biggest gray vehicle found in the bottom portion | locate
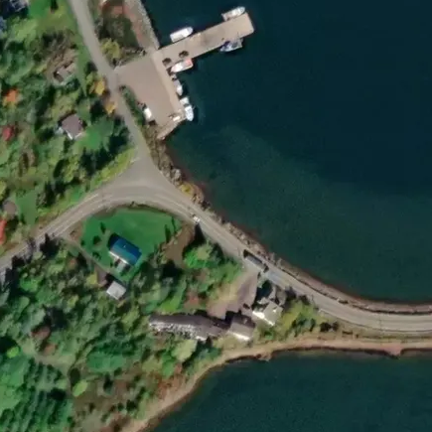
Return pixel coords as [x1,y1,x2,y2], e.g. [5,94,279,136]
[246,255,267,270]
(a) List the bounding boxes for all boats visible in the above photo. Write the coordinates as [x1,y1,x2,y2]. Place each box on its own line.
[221,38,243,50]
[171,59,194,71]
[173,80,183,95]
[222,8,245,21]
[170,29,192,42]
[183,105,193,121]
